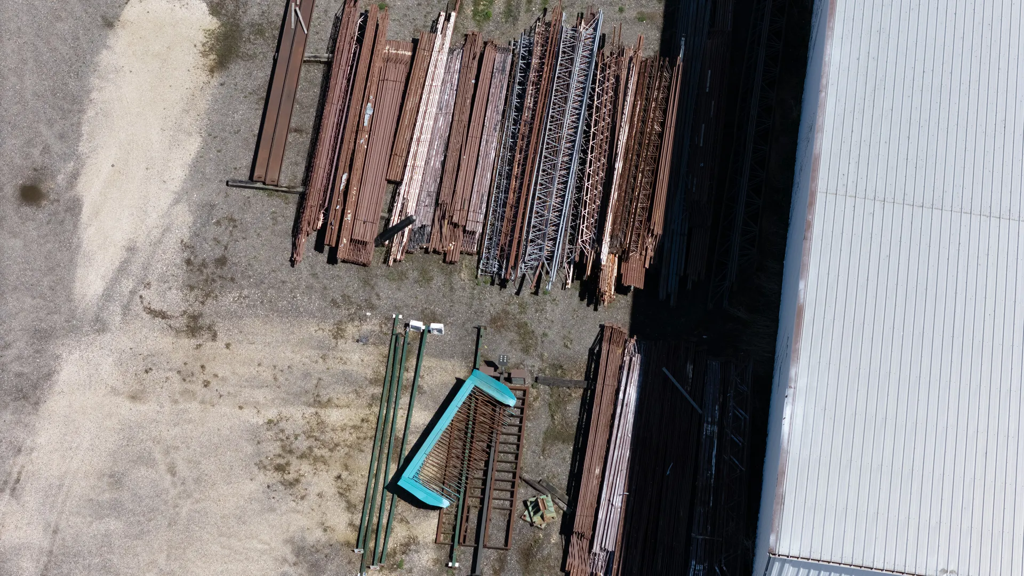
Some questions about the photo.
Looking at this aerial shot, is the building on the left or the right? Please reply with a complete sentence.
You can find the building on the right side of the picture.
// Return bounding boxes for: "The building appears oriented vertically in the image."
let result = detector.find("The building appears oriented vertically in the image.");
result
[752,0,1024,576]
